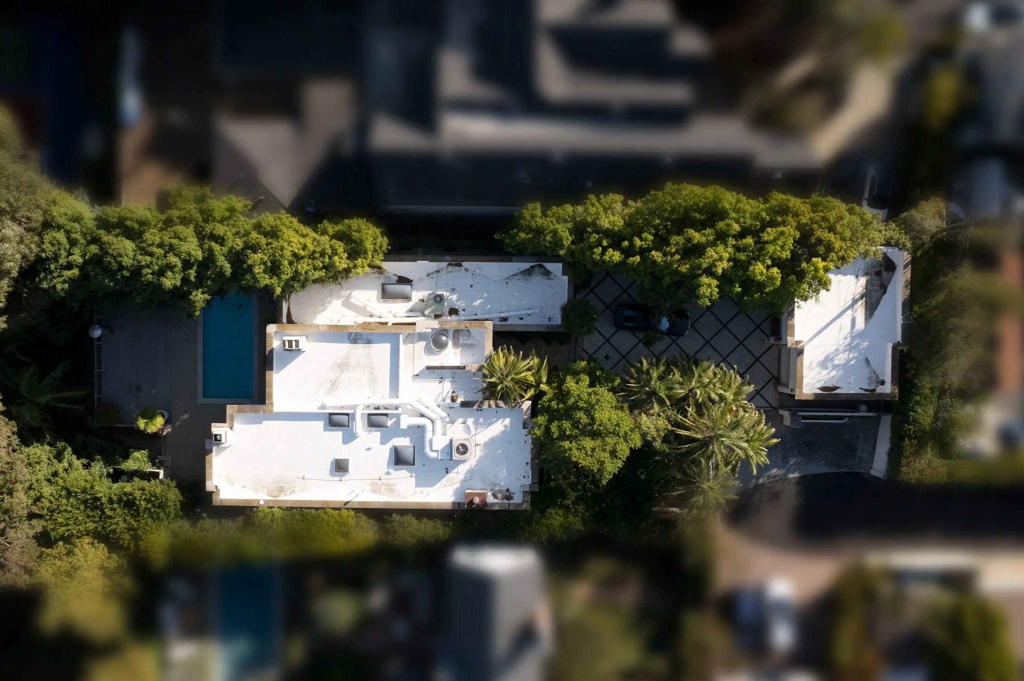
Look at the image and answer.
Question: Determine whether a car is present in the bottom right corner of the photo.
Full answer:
Yes, a car appears in the bottom right corner of the photo.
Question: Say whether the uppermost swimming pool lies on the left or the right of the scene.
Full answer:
You can find the uppermost swimming pool on the left side of the picture.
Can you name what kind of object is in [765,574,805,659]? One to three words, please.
car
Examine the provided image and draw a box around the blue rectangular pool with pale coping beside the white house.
[198,279,260,404]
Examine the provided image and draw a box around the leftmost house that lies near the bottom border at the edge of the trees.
[440,530,551,681]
